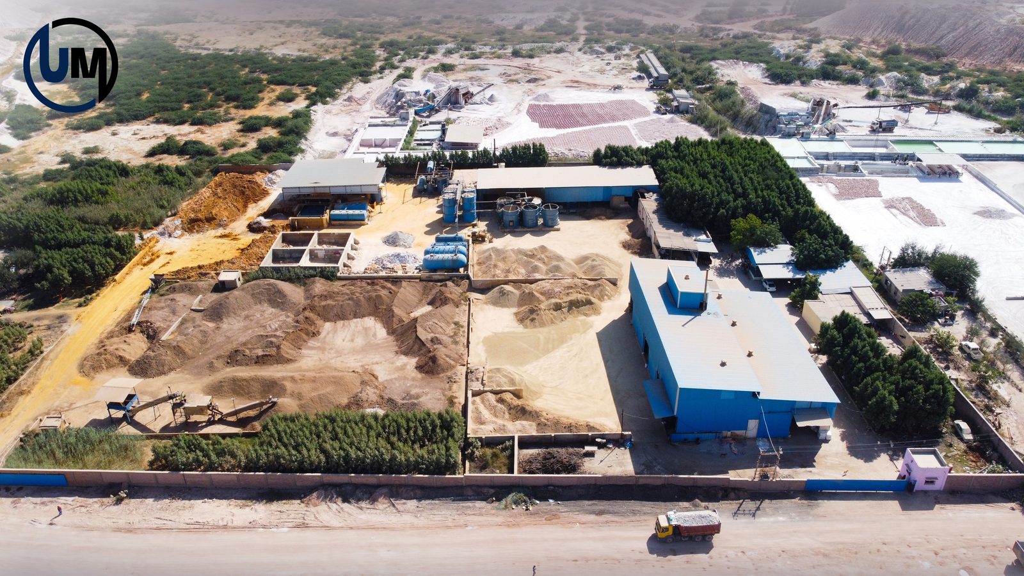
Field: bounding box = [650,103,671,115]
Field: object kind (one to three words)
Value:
vehicle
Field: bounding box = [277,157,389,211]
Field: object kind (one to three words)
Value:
shed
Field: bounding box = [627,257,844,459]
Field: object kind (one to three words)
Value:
building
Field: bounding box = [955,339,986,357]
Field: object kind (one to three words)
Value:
vehicle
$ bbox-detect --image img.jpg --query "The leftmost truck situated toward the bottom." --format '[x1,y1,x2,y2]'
[652,511,727,542]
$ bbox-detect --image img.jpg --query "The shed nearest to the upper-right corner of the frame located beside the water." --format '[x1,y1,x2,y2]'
[911,153,968,179]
